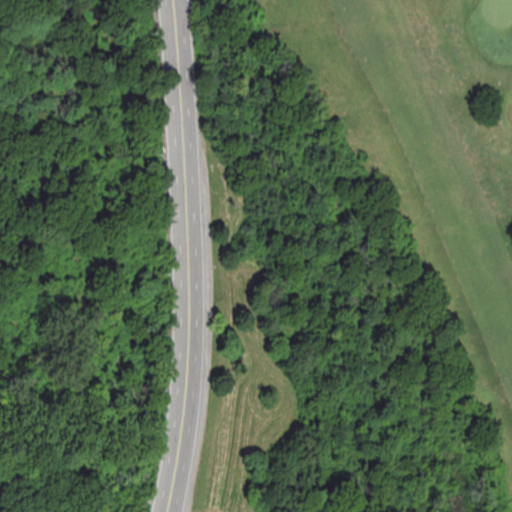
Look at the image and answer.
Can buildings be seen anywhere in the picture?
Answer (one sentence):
No, there is no building in the image.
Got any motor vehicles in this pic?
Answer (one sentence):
No, I can see no motor vehicle in this picture.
